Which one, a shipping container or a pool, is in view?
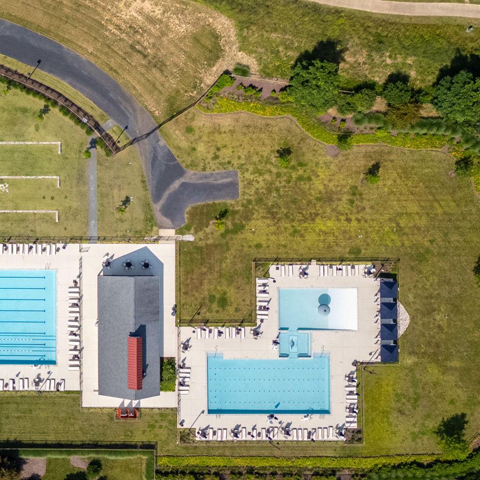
pool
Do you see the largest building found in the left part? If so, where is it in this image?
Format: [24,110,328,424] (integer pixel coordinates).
[96,274,160,400]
